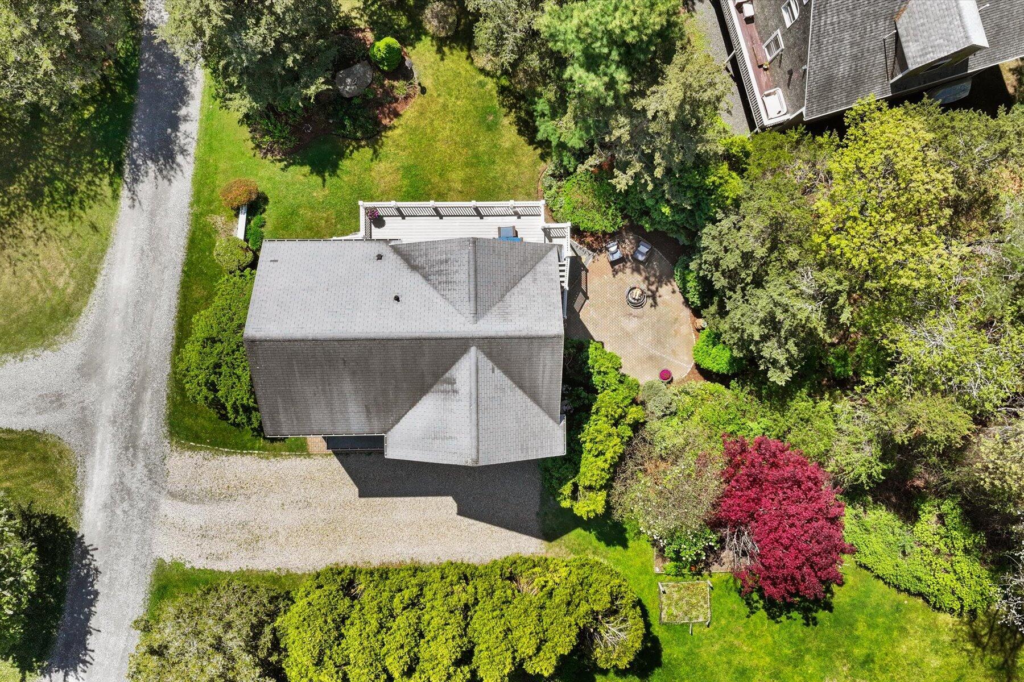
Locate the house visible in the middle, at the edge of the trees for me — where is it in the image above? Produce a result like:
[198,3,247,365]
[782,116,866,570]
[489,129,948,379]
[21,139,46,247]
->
[243,236,569,466]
